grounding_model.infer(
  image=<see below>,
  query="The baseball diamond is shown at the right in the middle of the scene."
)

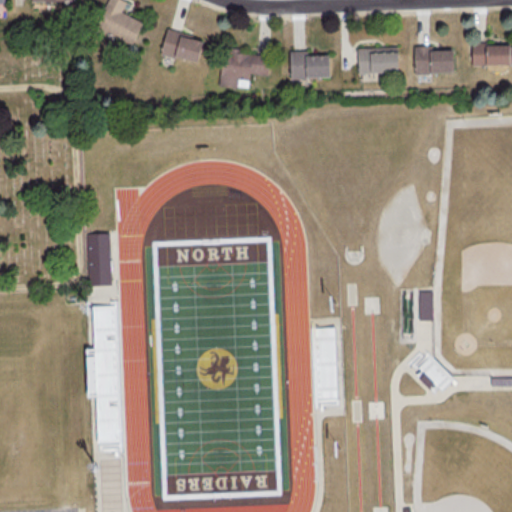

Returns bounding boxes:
[434,116,512,376]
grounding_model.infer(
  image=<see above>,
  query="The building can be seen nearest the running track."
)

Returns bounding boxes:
[88,234,112,286]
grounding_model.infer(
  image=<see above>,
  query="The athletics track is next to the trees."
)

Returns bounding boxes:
[117,159,318,512]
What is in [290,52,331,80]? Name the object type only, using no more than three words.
house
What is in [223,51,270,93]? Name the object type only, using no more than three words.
house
